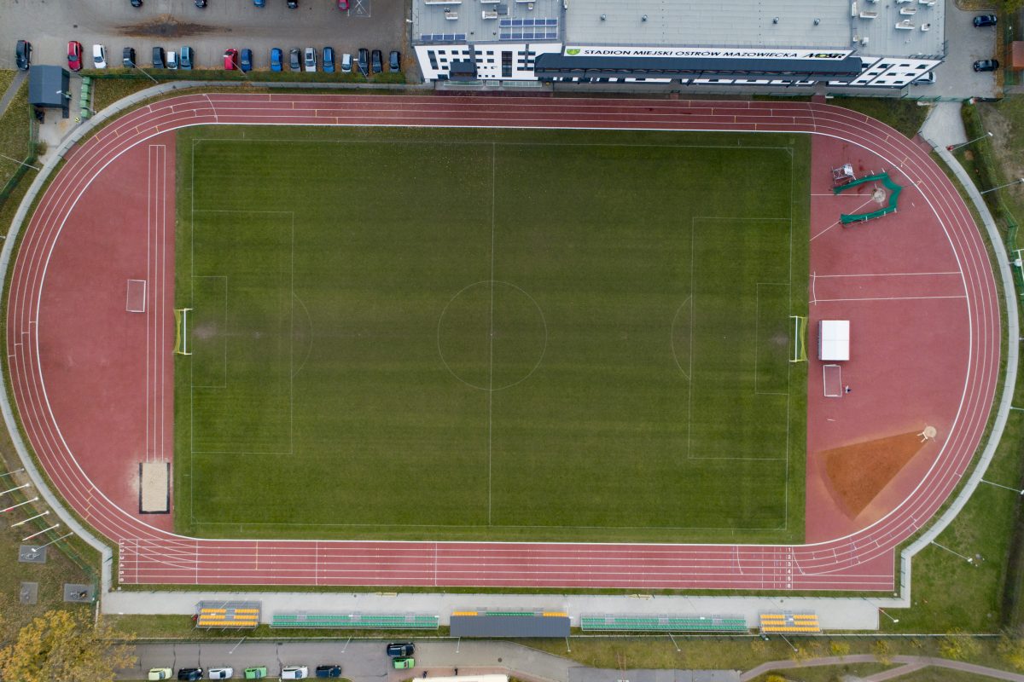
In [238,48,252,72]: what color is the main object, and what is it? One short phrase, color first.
blue car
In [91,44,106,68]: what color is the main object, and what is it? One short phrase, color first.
white car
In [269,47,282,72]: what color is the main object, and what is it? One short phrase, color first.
blue vehicle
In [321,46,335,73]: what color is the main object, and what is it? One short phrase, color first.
blue car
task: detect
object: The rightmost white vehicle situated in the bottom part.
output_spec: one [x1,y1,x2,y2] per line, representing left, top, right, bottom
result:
[282,667,307,681]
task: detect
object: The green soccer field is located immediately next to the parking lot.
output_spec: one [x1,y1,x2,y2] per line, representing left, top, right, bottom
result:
[172,123,811,545]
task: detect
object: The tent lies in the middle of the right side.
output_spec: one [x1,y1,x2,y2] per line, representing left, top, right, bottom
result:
[812,321,850,360]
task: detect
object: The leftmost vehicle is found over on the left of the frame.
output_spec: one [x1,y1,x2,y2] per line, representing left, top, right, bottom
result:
[13,40,31,69]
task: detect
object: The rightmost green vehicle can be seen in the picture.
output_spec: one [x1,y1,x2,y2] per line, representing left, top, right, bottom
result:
[393,658,415,672]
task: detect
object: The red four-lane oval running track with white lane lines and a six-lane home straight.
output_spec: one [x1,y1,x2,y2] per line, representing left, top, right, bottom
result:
[7,93,1001,590]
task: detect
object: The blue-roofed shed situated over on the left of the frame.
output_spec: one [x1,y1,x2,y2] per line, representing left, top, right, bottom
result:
[31,64,71,121]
